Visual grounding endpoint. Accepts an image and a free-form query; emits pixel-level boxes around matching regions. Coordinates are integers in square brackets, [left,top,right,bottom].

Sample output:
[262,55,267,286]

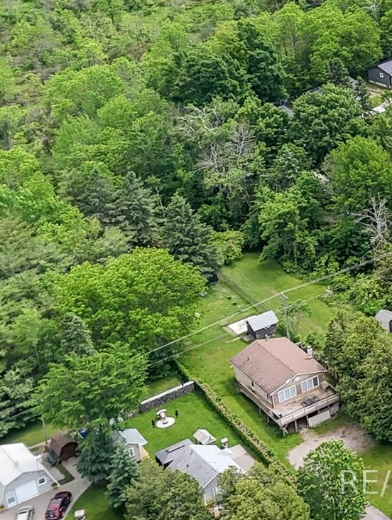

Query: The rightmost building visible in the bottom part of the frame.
[375,308,392,333]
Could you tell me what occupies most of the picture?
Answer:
trees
